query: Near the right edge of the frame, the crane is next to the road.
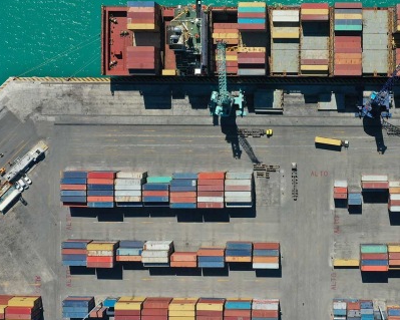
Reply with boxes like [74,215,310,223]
[356,67,400,121]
